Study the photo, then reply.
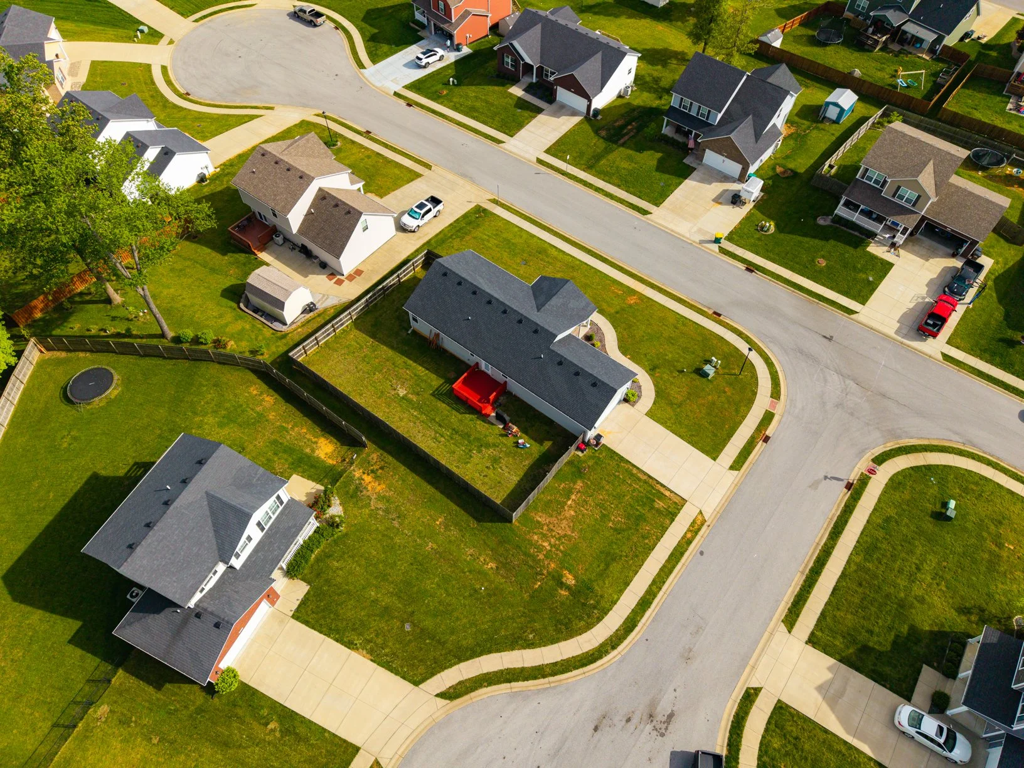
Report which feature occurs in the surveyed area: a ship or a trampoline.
trampoline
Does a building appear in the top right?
Yes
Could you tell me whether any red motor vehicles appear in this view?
Yes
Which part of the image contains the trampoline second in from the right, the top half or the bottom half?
top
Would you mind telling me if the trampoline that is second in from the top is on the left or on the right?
right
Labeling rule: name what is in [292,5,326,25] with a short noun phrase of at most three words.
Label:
vehicle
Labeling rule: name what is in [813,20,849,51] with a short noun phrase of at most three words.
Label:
trampoline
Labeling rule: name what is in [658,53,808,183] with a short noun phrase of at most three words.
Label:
house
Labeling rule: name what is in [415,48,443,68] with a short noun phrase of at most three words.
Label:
car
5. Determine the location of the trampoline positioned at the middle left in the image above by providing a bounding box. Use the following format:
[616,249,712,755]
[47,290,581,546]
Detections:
[67,367,121,408]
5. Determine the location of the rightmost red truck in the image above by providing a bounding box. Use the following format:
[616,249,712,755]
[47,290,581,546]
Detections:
[922,292,963,335]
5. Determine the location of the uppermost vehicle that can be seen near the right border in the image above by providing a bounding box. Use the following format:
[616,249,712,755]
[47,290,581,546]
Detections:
[949,253,988,295]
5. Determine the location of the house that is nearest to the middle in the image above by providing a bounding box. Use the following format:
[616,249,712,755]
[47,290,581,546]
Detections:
[403,251,645,443]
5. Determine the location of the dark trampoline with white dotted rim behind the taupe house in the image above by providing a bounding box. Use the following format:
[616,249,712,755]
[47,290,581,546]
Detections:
[968,146,1010,175]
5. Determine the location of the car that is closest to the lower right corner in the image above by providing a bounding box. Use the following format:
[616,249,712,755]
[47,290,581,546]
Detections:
[899,704,976,768]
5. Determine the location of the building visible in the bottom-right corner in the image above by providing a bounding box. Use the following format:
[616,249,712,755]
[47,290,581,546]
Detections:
[945,624,1024,768]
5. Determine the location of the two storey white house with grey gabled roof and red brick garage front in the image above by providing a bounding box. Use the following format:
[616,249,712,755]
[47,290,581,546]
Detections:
[81,434,320,687]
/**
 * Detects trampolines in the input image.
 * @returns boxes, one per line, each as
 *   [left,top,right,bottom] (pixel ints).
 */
[813,20,849,51]
[968,146,1010,175]
[67,367,121,408]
